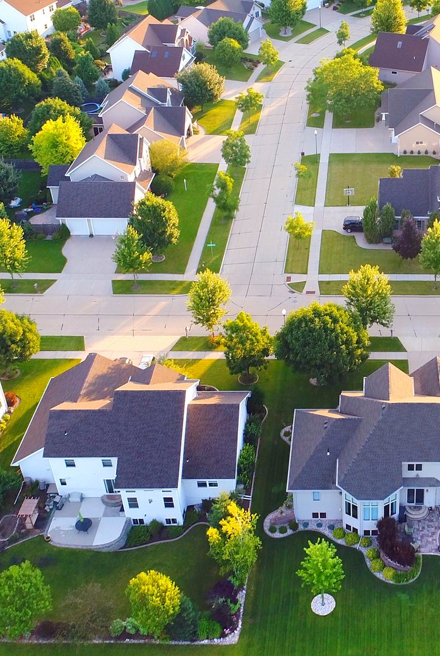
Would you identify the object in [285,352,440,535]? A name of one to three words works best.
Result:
house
